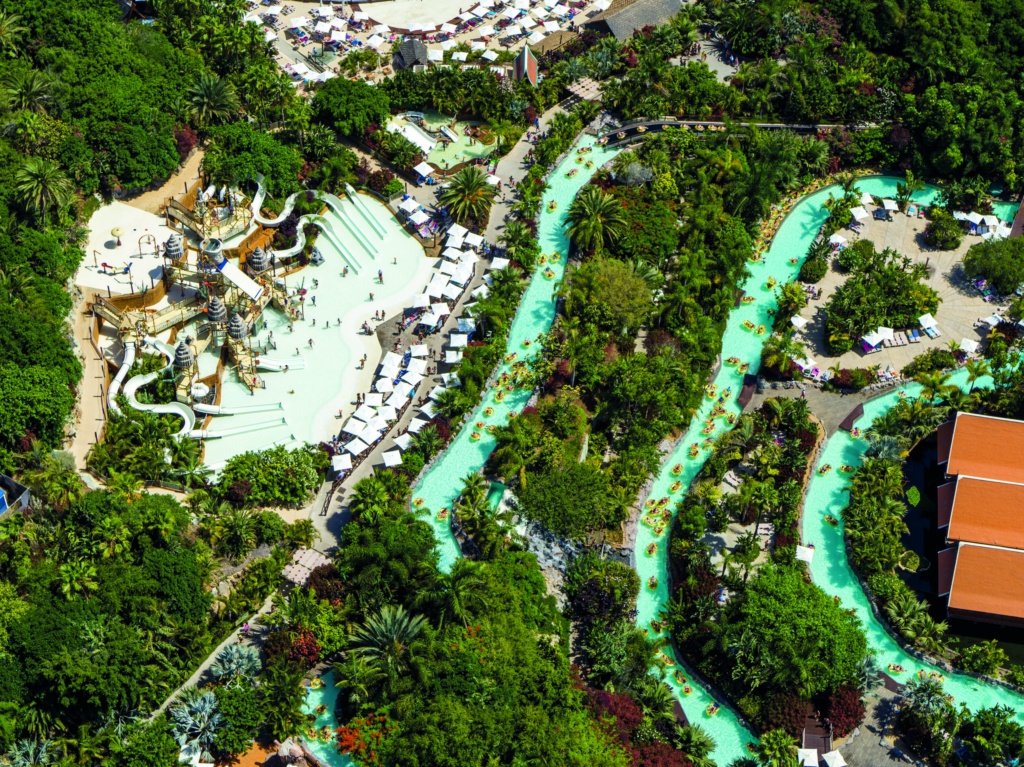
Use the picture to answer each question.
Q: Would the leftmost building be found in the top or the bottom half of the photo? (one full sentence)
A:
The leftmost building sits in the bottom half of the picture.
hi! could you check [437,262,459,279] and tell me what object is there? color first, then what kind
white umbrella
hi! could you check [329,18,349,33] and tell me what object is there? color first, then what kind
white umbrella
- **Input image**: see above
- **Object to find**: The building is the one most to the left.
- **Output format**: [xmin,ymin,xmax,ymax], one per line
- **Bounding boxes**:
[0,476,30,527]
